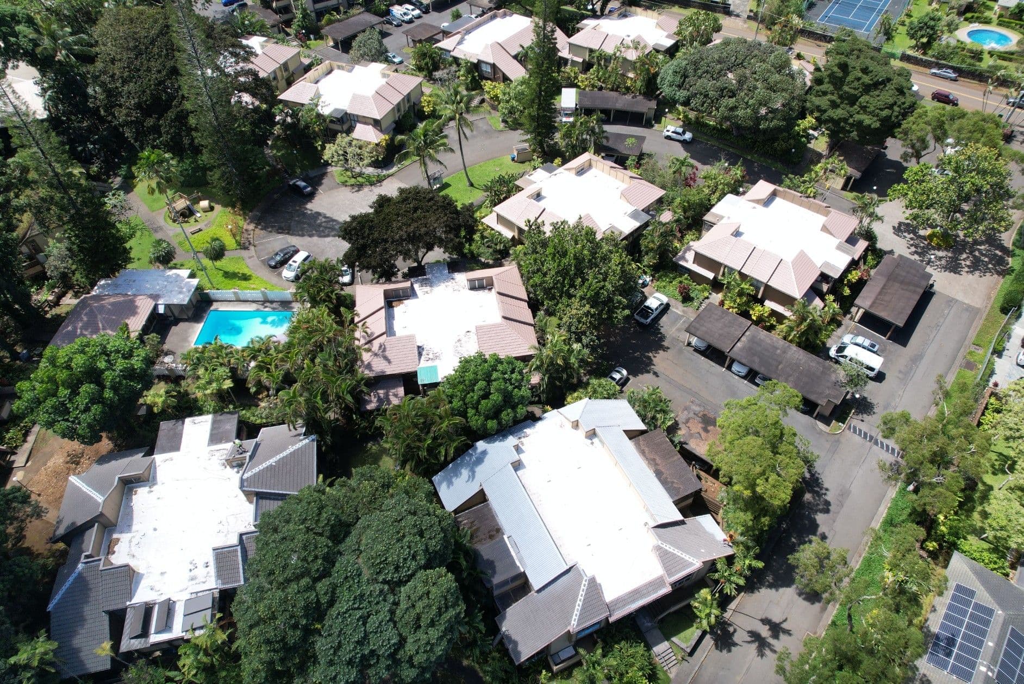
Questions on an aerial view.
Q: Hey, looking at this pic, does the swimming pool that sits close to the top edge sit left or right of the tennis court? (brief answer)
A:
to its right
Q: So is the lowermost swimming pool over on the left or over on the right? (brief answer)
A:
left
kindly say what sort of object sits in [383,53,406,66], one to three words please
vehicle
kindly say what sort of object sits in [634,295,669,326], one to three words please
truck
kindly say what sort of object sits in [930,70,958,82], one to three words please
vehicle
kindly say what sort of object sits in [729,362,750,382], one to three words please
car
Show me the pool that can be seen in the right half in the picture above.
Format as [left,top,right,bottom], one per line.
[954,23,1023,50]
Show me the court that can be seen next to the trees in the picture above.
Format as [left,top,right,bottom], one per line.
[800,0,903,37]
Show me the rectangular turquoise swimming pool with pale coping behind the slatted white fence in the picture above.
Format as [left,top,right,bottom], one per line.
[155,297,322,379]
